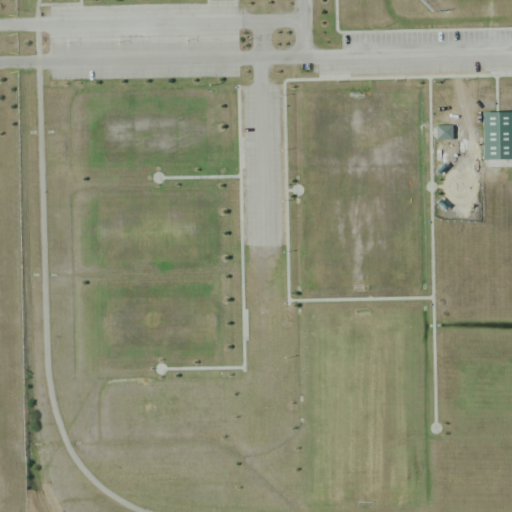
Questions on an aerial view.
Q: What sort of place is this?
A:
sports ground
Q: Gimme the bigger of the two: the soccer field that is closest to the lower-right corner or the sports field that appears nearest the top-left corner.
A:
the soccer field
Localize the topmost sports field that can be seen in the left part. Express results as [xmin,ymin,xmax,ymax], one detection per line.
[88,92,222,172]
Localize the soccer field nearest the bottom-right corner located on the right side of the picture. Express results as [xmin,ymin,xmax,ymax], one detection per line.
[304,306,422,506]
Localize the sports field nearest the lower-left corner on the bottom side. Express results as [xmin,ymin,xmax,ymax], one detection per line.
[84,284,221,360]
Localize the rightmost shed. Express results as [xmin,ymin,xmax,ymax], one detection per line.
[484,110,512,158]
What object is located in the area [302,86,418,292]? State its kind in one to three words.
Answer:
soccer field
